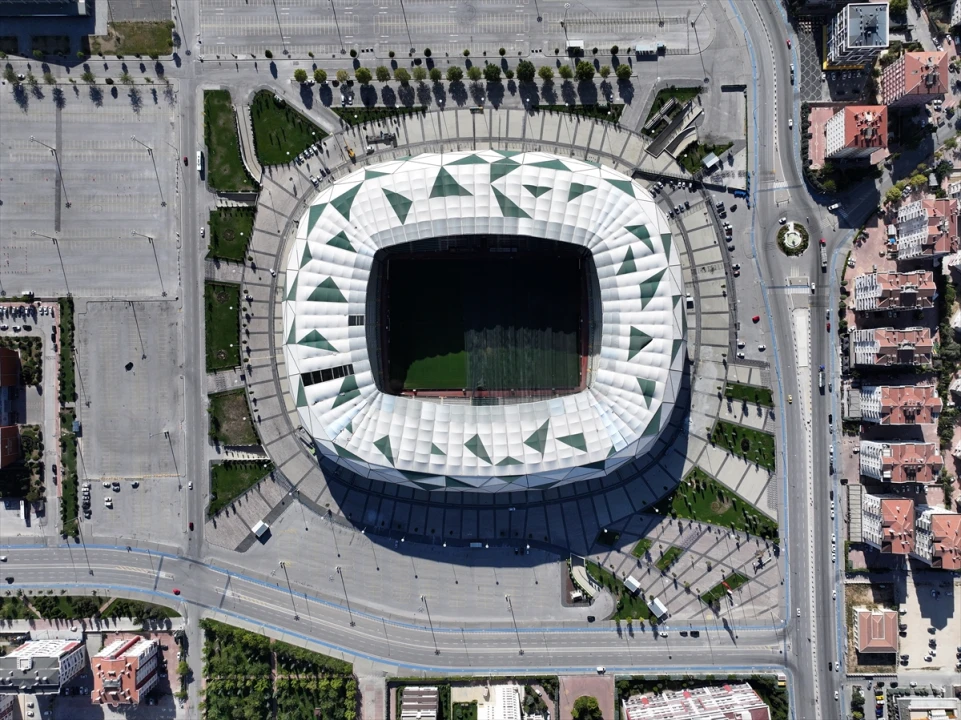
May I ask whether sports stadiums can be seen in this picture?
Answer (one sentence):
Yes, a sports stadium is visible in the scene.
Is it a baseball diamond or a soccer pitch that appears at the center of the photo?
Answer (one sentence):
Looking at the center of the photo, you will find a soccer pitch.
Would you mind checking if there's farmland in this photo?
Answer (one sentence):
No, farmland can't be seen anywhere here.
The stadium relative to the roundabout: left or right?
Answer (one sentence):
Looking at the picture, you'll find the stadium to the left of the roundabout.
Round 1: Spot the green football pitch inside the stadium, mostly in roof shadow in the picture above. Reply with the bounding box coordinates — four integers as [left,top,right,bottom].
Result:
[379,252,589,398]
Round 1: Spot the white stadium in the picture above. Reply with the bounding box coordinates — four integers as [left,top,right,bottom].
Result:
[282,149,687,491]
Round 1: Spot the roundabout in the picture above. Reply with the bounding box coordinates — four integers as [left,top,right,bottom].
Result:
[777,222,810,254]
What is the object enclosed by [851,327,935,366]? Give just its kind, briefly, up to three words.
building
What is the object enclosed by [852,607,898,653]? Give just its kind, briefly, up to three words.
house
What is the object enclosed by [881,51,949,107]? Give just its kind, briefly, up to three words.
building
